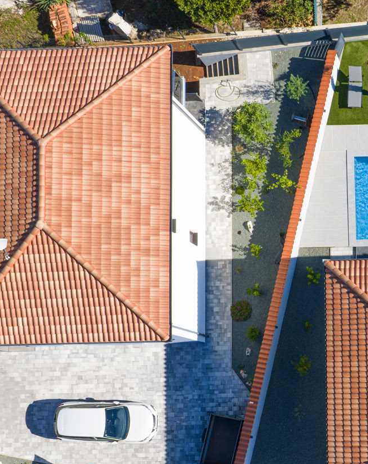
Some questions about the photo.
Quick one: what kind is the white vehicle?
car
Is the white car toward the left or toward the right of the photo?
left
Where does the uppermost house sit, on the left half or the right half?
left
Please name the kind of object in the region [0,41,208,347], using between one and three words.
house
